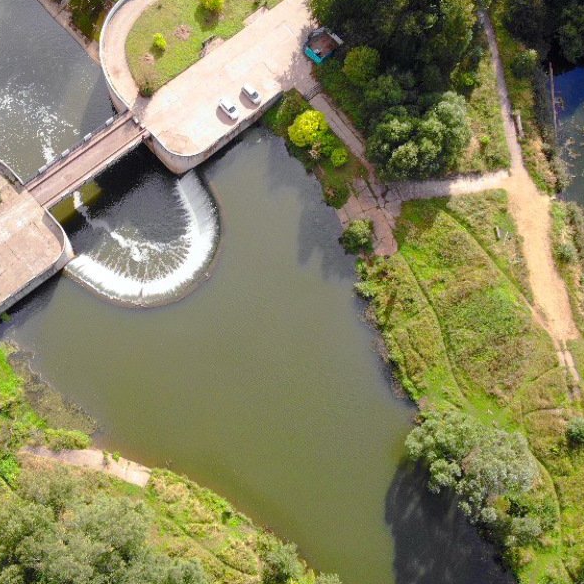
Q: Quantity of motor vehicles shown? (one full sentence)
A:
The count of motor vehicles comes to 2.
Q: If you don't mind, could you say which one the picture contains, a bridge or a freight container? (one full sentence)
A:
Visible in the photo is a bridge.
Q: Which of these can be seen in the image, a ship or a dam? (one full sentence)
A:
The image shows a dam.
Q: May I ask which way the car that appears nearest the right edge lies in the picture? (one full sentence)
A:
I'd say the car that appears nearest the right edge is aligned diagonally in the picture.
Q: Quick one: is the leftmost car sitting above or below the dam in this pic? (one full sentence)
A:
As seen from overhead, the leftmost car falls above the dam in the picture.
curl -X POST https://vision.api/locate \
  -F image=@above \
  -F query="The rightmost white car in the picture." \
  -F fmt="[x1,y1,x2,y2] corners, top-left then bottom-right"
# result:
[238,83,263,106]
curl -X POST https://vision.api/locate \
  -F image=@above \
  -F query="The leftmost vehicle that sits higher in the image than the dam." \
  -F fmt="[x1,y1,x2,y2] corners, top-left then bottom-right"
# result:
[215,99,239,121]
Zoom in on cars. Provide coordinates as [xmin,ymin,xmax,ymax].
[238,83,263,106]
[215,99,239,121]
